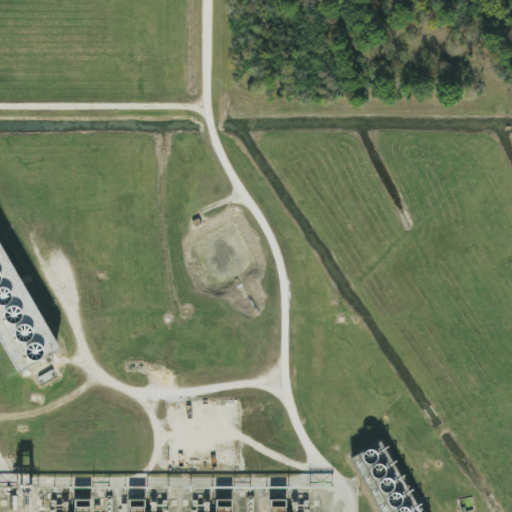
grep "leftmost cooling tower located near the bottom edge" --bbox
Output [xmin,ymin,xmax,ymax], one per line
[350,438,424,512]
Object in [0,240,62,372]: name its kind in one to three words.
cooling tower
